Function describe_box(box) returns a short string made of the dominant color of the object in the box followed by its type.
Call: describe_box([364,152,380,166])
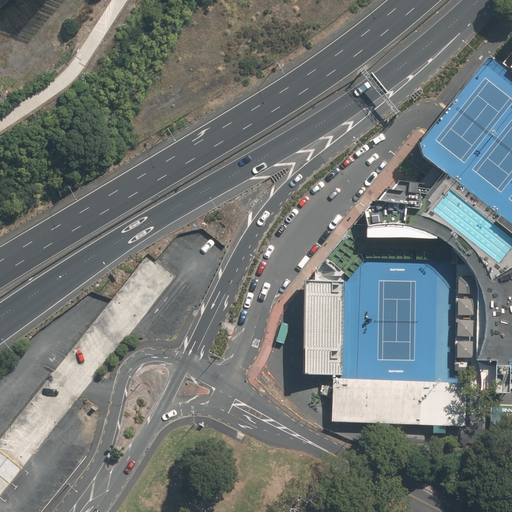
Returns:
white car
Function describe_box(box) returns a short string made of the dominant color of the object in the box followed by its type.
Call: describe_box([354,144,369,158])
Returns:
white vehicle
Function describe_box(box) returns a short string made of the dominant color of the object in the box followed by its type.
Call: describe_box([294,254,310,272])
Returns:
white vehicle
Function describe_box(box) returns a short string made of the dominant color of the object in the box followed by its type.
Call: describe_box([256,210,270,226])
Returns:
white car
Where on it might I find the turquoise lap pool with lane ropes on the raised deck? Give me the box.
[432,190,512,264]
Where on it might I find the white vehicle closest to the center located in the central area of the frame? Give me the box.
[262,244,276,260]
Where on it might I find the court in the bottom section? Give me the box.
[375,280,415,360]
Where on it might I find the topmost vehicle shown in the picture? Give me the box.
[352,81,372,98]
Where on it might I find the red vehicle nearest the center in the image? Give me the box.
[255,261,267,277]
